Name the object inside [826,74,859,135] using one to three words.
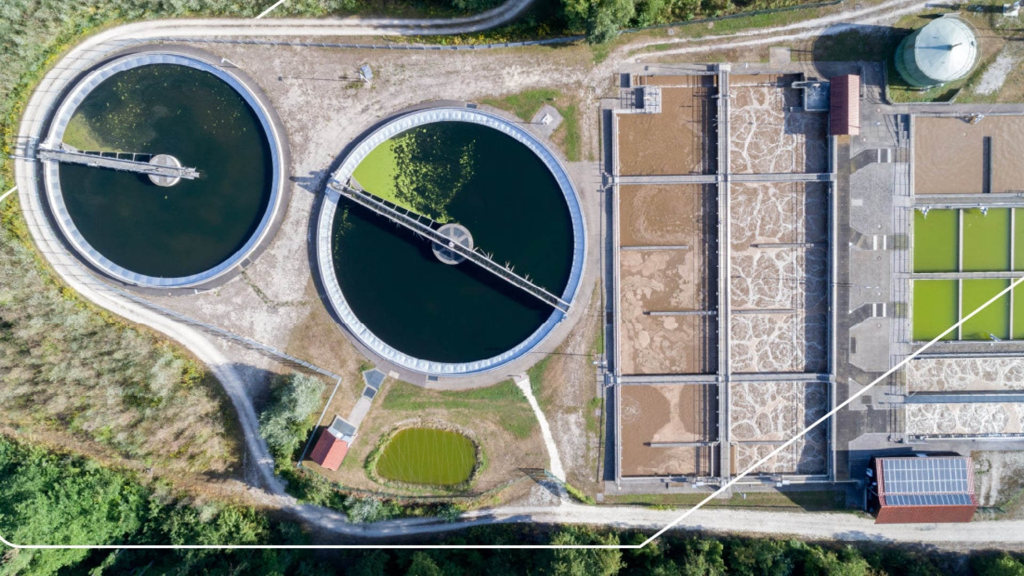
shed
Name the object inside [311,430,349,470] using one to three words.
shed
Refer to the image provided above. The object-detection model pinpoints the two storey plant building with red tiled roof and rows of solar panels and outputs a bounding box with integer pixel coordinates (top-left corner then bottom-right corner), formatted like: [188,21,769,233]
[865,452,982,524]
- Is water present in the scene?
Yes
